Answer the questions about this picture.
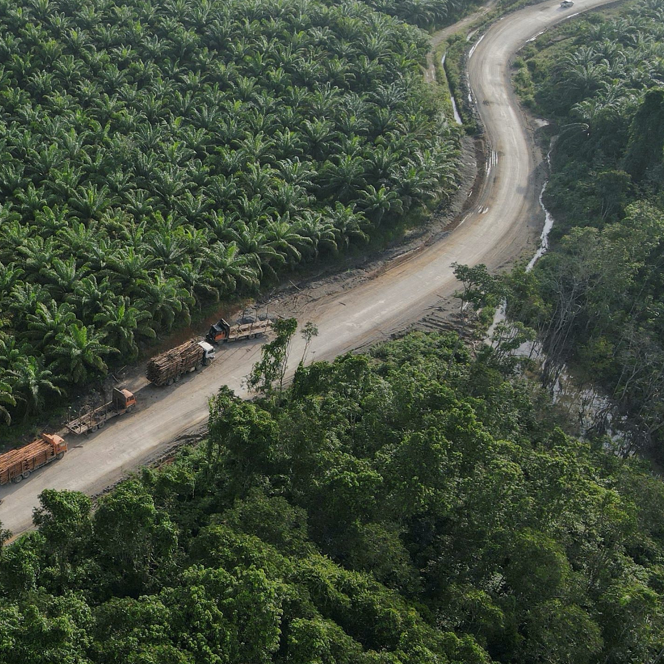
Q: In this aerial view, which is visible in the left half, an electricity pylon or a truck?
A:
truck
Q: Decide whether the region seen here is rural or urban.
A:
rural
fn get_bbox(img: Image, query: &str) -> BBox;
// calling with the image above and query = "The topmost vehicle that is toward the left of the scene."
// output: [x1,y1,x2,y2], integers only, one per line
[204,306,277,345]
